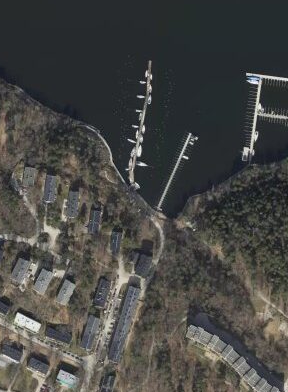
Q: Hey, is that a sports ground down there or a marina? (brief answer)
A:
marina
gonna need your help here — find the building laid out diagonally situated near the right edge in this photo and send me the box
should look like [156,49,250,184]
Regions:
[185,325,279,392]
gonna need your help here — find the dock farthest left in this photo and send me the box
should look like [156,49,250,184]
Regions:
[130,60,151,189]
